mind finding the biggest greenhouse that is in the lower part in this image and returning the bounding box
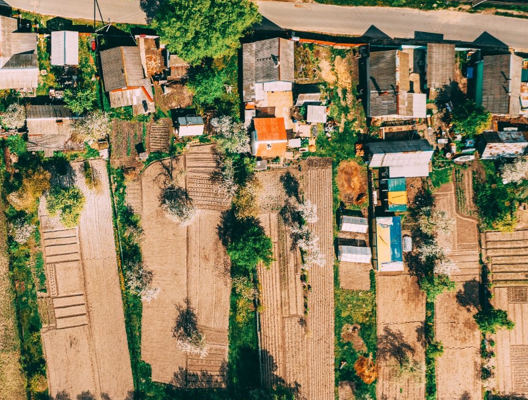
[372,216,403,271]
